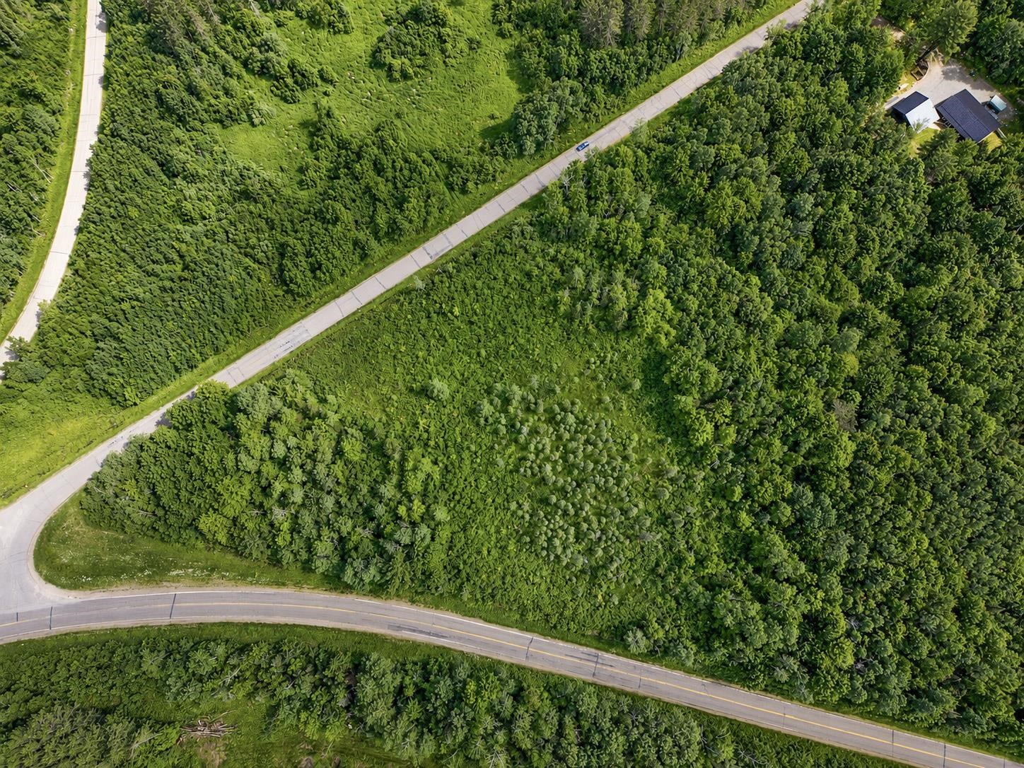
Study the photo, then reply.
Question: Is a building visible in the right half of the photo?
Yes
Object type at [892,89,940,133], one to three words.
building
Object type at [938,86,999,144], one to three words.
house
